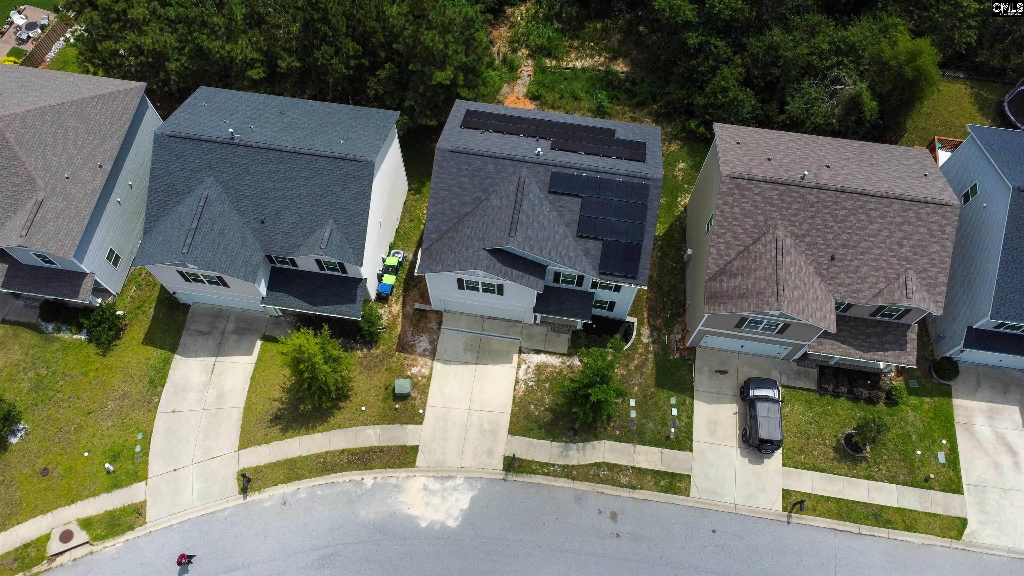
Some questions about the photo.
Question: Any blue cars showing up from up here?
No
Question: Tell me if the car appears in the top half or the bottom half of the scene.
bottom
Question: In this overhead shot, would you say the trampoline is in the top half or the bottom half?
top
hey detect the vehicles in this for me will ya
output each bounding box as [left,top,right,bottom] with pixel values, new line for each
[740,377,784,452]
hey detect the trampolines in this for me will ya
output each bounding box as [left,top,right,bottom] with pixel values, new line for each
[999,73,1024,130]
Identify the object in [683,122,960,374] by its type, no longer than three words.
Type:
house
